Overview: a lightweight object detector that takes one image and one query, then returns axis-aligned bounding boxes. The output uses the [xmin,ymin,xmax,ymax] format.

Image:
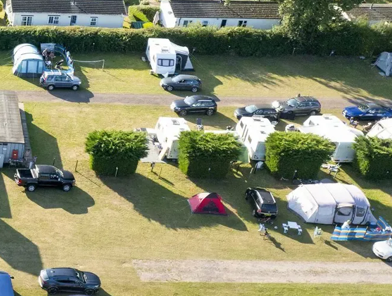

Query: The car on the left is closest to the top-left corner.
[39,70,84,91]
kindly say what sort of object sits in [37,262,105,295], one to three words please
car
